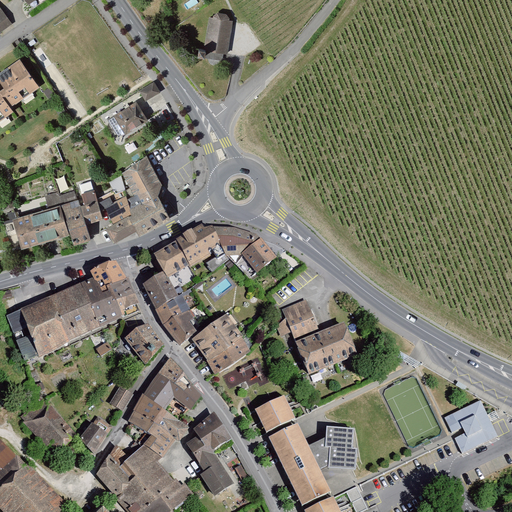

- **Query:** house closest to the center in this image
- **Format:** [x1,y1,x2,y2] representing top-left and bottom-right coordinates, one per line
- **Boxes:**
[242,237,276,273]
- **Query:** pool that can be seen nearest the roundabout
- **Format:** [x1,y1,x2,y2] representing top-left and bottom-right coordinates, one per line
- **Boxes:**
[206,276,236,300]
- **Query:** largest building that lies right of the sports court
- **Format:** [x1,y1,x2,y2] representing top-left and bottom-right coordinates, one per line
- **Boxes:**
[443,400,498,454]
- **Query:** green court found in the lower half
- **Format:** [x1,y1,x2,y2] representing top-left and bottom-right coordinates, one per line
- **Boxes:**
[384,376,443,449]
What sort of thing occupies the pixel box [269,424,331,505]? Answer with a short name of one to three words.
building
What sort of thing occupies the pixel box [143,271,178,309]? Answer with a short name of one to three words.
house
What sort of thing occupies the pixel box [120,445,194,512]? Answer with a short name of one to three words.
barn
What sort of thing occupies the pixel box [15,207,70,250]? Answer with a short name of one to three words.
house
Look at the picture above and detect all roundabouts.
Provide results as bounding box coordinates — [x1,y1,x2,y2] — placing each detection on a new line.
[200,132,285,226]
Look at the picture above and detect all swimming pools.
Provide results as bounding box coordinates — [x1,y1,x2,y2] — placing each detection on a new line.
[206,276,236,300]
[185,0,199,10]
